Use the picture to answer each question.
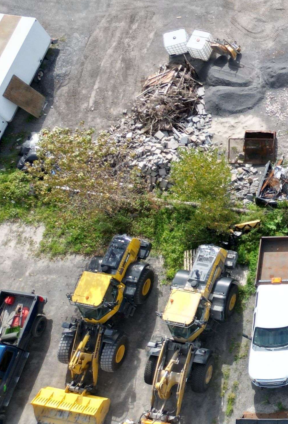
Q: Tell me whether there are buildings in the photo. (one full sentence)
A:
No, there isn't any building down there.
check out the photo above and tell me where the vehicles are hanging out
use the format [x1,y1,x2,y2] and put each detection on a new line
[0,287,51,424]
[0,16,55,112]
[121,238,246,424]
[22,224,164,424]
[235,233,288,393]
